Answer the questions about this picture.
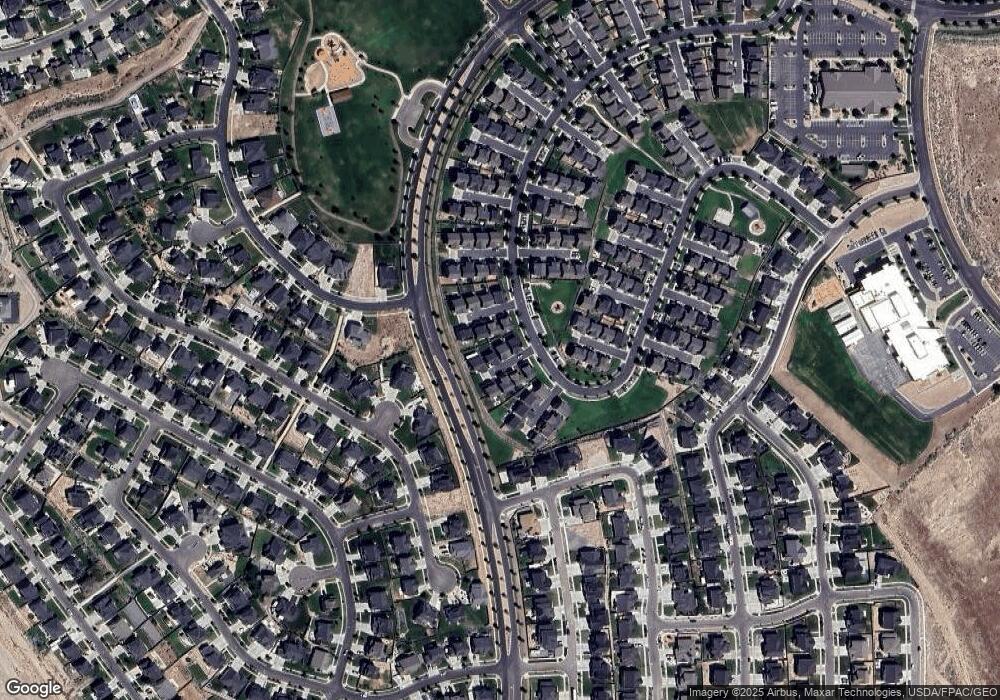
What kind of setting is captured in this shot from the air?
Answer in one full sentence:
This looks like a residential area.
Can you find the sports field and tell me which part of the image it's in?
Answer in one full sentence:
The sports field appears toward the right of the photo.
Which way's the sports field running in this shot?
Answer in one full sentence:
I'd say the sports field is aligned at an angle in the picture.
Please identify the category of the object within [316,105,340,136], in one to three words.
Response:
basketball court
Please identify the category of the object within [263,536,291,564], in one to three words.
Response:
house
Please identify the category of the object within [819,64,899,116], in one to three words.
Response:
building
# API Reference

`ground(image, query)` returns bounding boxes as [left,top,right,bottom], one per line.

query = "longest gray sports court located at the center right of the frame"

[850,330,910,398]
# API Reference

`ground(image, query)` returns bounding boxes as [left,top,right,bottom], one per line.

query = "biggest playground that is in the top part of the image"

[305,32,365,92]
